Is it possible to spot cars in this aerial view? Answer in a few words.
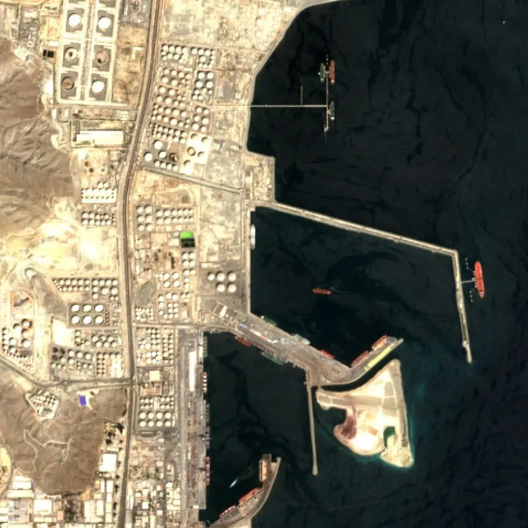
No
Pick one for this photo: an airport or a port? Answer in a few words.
port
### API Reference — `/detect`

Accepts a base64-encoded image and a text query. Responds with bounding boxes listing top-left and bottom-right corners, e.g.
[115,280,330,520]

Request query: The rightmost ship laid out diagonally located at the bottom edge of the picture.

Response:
[238,488,260,511]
